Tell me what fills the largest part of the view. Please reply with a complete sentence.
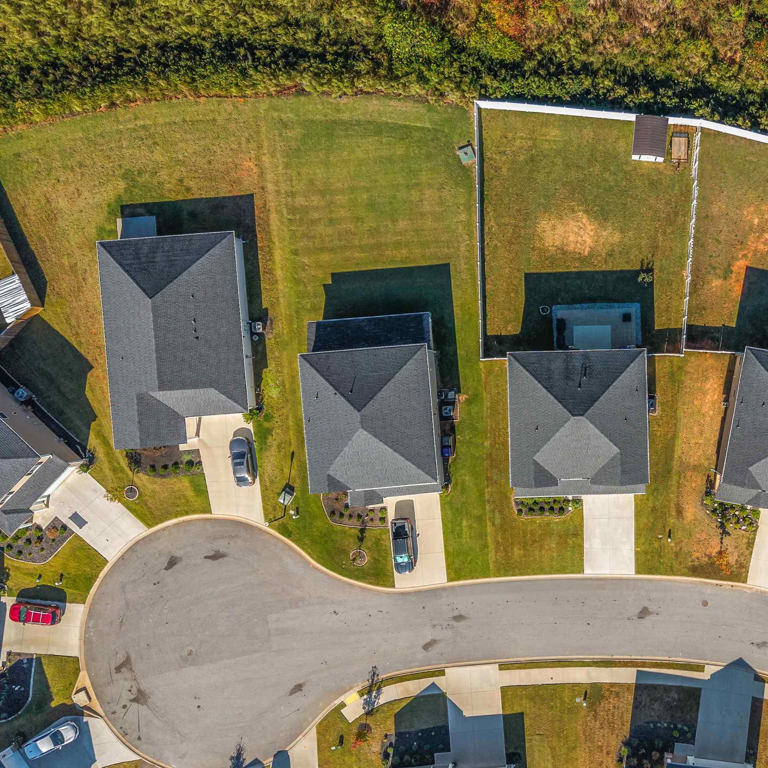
What you mostly see from above here is grass.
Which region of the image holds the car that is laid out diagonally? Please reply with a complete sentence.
The car that is laid out diagonally sits in the bottom left section of the image.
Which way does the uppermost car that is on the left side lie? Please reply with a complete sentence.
The uppermost car that is on the left side is laid out vertically.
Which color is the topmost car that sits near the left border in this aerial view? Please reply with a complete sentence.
In this view, the topmost car that sits near the left border is red.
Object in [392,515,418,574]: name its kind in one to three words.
truck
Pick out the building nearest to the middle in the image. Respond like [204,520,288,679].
[298,312,443,507]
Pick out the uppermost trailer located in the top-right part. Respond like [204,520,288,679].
[669,121,691,174]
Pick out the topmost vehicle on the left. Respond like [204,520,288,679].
[230,435,258,486]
